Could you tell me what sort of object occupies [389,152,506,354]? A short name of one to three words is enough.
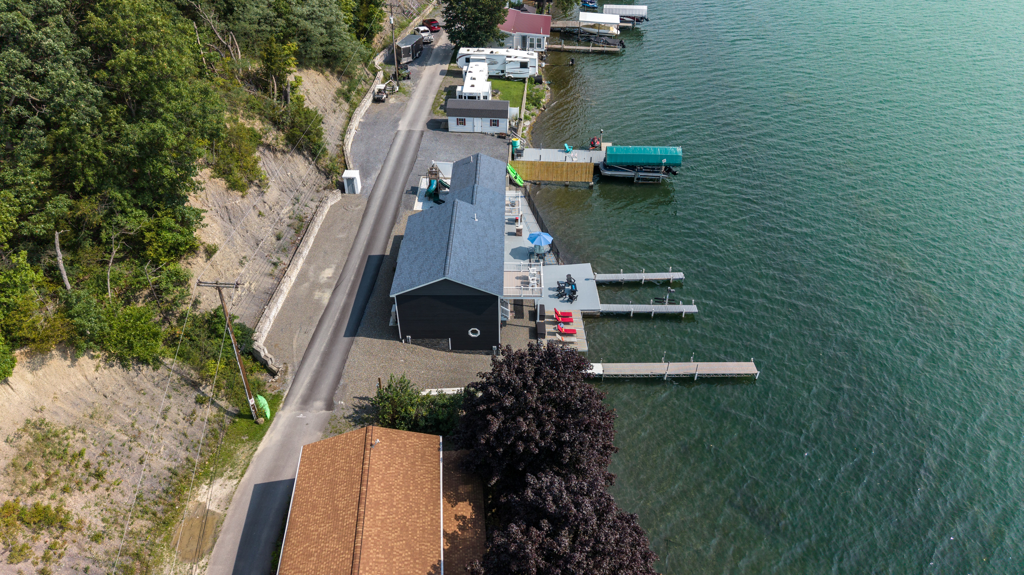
house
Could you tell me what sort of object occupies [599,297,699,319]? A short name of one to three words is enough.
pier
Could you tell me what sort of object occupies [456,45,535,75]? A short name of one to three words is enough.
camper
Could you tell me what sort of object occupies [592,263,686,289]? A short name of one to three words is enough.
pier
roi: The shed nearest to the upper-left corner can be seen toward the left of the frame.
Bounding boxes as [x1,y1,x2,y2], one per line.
[341,167,361,194]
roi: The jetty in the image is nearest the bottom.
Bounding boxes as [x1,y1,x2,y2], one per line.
[574,351,760,381]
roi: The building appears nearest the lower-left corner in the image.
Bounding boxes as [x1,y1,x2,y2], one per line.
[276,425,490,575]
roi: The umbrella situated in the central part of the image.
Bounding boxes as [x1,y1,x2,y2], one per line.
[527,231,553,249]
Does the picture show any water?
Yes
